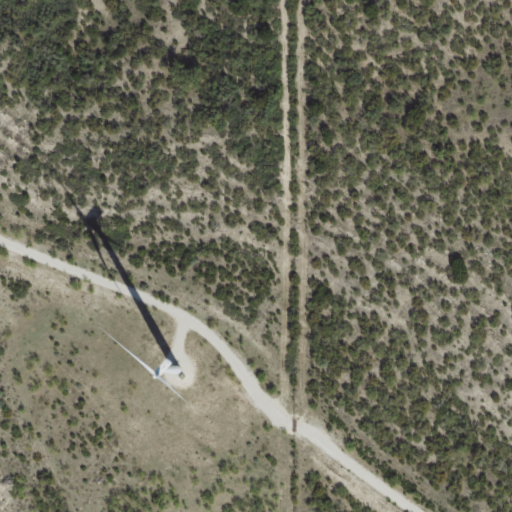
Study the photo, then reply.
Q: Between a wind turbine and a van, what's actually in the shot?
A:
wind turbine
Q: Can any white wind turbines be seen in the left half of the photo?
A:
Yes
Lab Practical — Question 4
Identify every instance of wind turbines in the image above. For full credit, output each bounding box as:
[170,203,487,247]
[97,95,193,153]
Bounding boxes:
[100,326,188,403]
